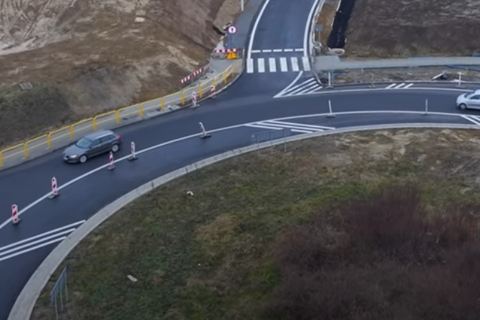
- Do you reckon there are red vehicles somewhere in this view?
No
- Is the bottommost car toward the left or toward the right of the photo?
left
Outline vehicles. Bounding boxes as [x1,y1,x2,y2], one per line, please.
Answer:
[61,127,124,163]
[455,88,480,110]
